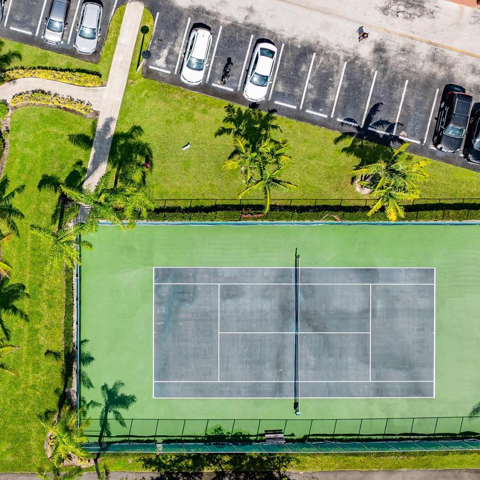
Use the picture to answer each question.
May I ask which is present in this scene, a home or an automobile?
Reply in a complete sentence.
Looking from above, you can make out an automobile.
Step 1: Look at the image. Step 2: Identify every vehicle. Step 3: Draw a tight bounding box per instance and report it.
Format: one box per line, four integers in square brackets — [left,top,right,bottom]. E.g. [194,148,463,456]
[181,26,214,86]
[434,89,474,154]
[44,0,71,47]
[222,61,231,87]
[73,0,103,56]
[464,111,480,165]
[244,43,278,102]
